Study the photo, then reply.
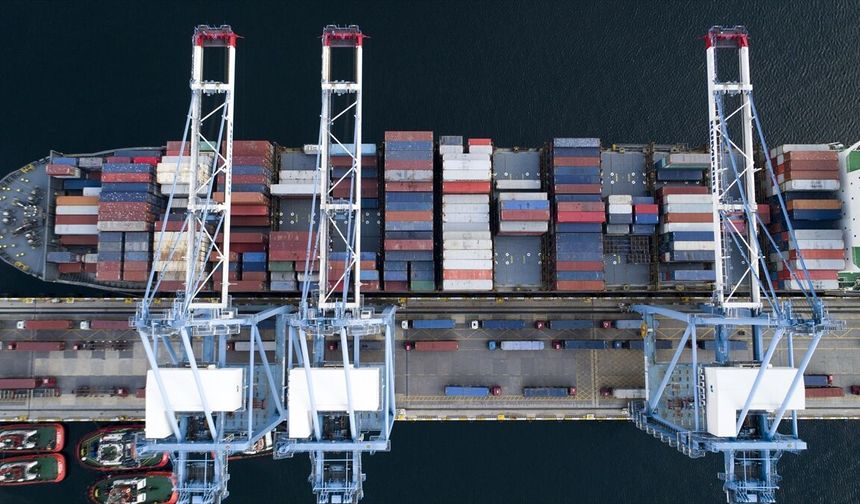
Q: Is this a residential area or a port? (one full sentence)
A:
This image shows a port.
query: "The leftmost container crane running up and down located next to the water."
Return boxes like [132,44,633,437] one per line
[123,24,293,504]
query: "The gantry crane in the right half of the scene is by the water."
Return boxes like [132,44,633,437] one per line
[615,28,837,504]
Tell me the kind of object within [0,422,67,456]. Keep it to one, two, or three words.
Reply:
boat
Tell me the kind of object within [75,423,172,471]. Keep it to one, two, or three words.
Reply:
boat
